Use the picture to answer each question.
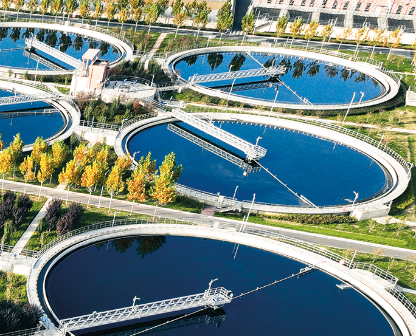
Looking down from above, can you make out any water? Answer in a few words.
Yes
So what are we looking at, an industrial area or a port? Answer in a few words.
industrial area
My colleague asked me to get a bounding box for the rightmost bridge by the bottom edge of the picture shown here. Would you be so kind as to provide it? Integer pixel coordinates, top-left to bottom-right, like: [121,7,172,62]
[46,285,239,336]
